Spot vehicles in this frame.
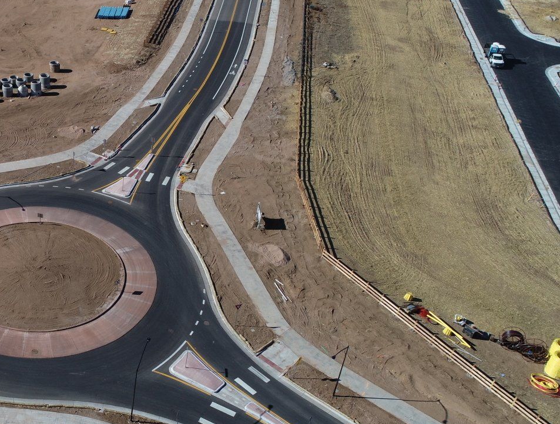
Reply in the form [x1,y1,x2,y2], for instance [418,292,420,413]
[488,47,507,68]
